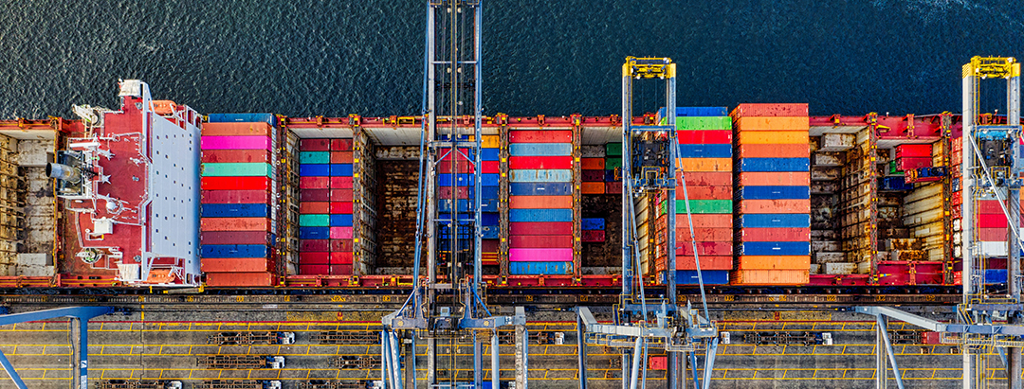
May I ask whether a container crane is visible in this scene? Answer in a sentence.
Yes, there's a container crane down there.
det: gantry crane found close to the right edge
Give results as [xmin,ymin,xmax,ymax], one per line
[828,57,1024,389]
